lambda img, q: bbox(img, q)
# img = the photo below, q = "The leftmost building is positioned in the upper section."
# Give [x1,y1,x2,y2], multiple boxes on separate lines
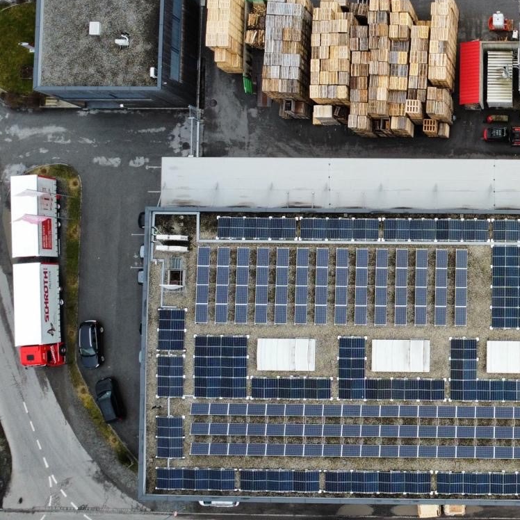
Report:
[35,0,200,109]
